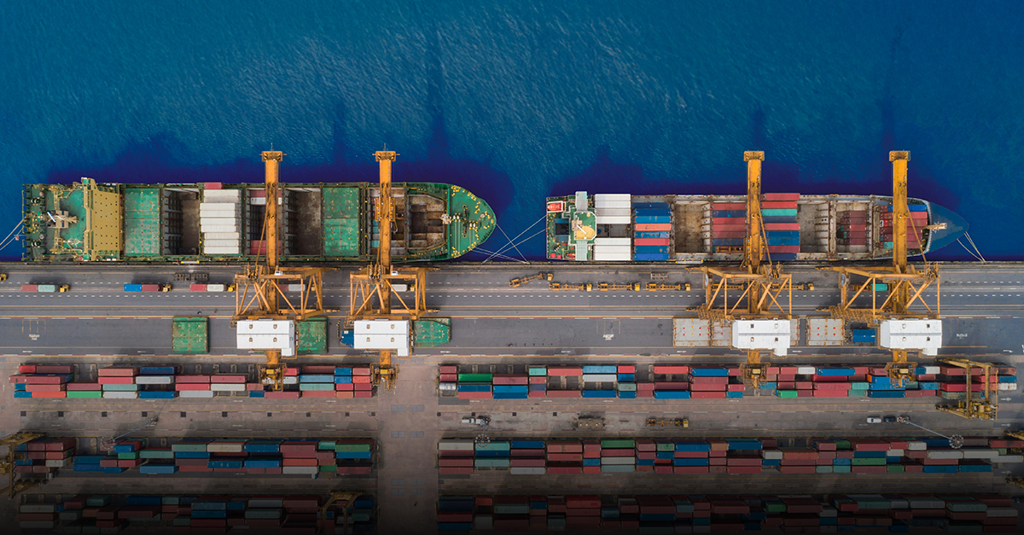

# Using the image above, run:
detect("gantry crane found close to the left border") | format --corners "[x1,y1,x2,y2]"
[0,433,48,500]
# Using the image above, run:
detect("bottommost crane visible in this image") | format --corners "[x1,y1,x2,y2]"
[319,491,362,535]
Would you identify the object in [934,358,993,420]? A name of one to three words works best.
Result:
container crane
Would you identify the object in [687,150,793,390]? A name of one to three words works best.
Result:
container crane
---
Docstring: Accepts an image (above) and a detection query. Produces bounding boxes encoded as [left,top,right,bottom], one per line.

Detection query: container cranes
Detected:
[0,433,48,500]
[341,144,445,390]
[227,144,339,390]
[687,150,793,390]
[934,358,993,420]
[822,150,943,390]
[319,491,362,535]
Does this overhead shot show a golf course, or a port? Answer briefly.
port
